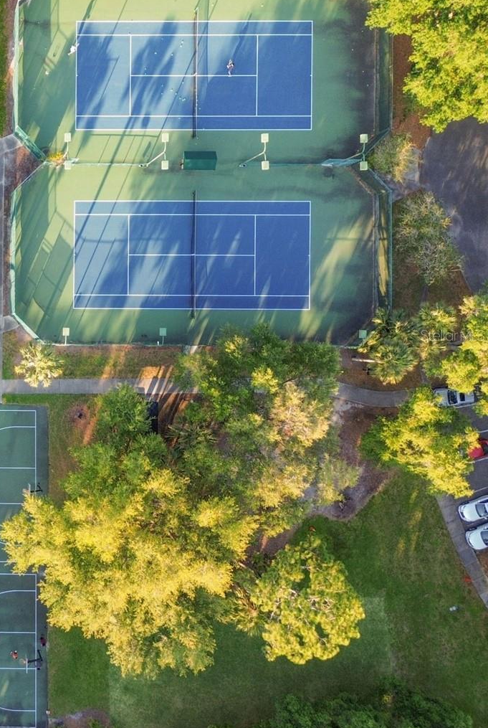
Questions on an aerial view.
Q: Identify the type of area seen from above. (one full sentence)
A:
What you see here is a sports ground.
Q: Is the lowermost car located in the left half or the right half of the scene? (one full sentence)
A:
You can find the lowermost car on the right side of the picture.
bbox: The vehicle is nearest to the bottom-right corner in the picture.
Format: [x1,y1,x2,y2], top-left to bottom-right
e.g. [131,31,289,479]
[468,529,488,551]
